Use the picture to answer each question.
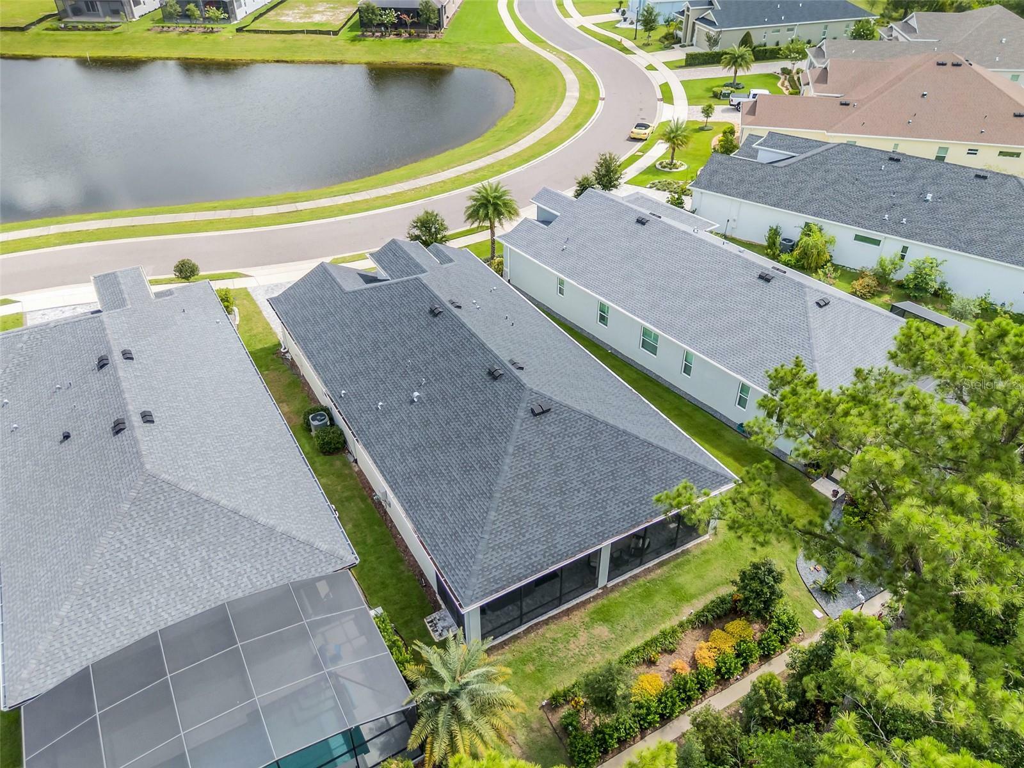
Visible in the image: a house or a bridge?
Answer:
house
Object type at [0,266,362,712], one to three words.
house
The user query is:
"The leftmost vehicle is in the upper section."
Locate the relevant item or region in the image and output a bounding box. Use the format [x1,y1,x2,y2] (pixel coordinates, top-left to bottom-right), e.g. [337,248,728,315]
[628,121,655,138]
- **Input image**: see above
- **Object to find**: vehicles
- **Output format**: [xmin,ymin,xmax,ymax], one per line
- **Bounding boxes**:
[628,121,655,138]
[724,90,764,113]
